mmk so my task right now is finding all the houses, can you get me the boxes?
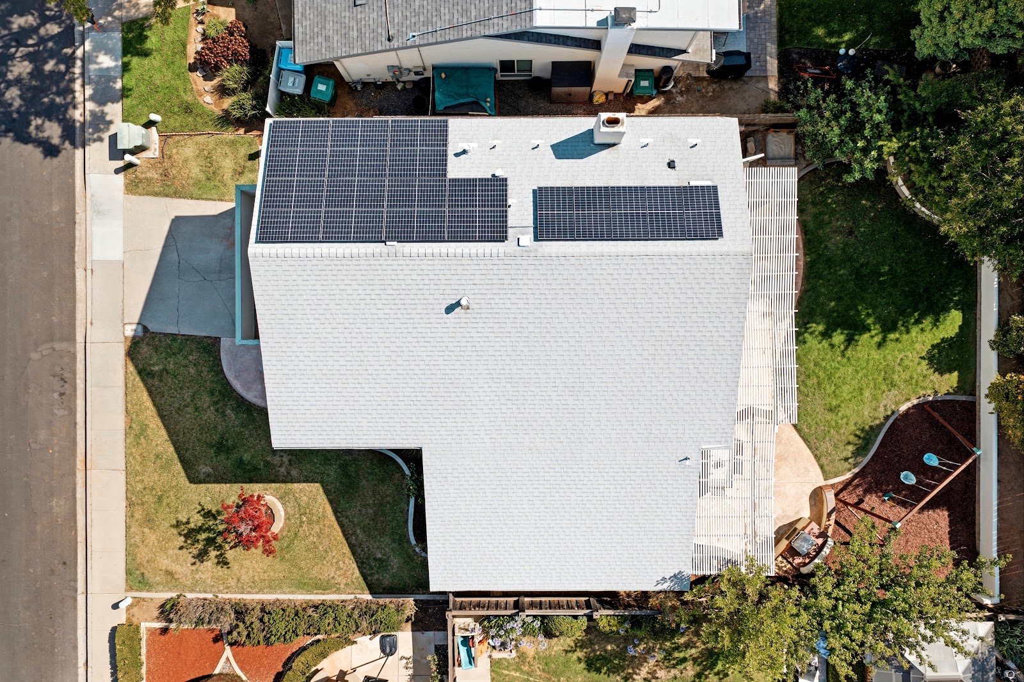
[294,0,743,98]
[236,116,767,593]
